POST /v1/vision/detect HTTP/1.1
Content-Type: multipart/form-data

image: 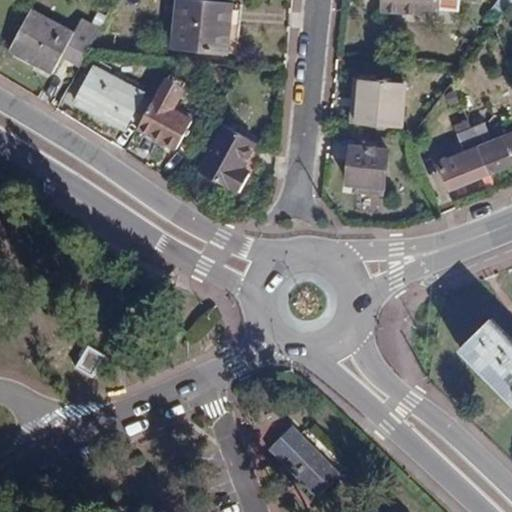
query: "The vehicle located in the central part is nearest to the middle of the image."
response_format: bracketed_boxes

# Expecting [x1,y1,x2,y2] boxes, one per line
[266,273,282,292]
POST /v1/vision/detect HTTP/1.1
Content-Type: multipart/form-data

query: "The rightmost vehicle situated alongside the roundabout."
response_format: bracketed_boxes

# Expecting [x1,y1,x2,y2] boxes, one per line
[352,294,372,312]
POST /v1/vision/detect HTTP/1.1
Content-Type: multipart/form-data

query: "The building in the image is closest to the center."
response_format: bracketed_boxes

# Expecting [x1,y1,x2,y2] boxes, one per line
[213,134,258,195]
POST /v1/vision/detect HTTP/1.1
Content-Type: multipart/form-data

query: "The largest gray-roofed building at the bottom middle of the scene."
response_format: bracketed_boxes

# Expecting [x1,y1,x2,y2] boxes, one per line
[269,426,341,493]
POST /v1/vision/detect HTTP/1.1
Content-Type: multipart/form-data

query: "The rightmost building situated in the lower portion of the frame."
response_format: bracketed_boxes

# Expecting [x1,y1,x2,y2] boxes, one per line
[457,318,512,415]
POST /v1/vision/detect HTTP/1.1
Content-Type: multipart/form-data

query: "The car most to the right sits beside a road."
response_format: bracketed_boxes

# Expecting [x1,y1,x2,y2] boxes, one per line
[471,205,492,219]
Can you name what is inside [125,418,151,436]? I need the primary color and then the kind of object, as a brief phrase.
white vehicle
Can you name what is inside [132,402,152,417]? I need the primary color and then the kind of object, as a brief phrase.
white car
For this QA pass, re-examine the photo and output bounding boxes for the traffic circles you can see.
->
[252,246,362,356]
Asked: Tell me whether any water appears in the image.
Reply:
No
